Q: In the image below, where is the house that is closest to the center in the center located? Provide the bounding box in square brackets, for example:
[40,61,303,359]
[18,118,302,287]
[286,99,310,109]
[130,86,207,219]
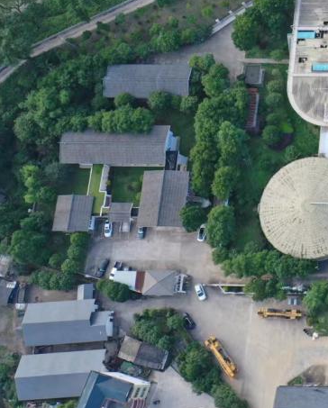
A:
[137,172,195,230]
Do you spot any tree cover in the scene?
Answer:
Yes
